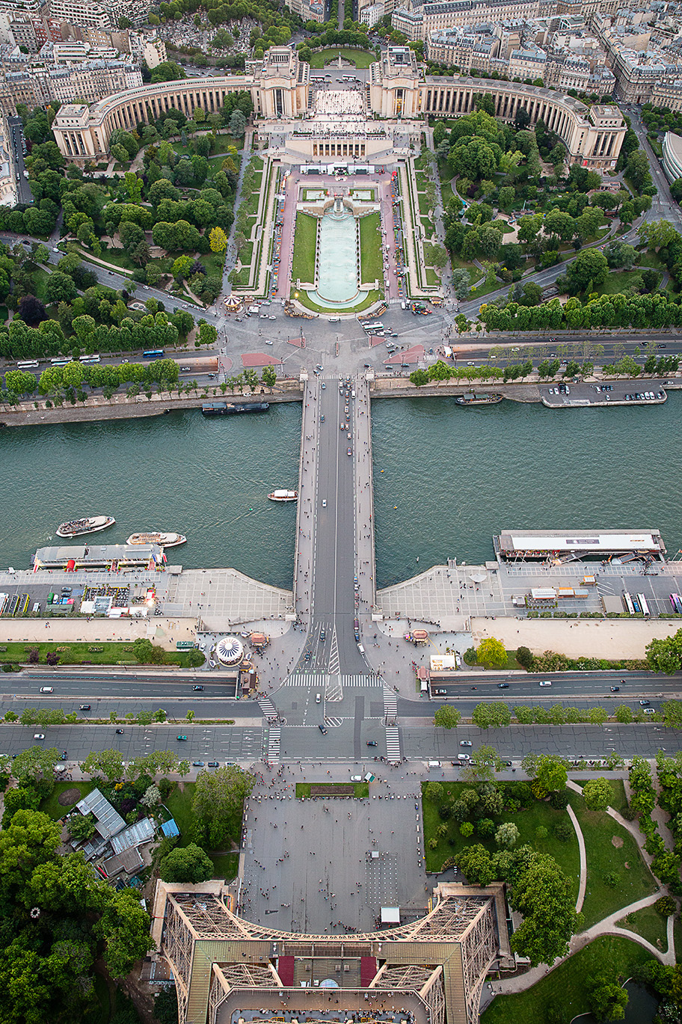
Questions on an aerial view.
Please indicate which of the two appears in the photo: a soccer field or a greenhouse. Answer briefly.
greenhouse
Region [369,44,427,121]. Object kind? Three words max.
building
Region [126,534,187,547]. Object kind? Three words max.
boat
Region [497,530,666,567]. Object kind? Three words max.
pier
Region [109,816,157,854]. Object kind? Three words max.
greenhouse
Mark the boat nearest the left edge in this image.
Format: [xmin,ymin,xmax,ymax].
[55,518,115,538]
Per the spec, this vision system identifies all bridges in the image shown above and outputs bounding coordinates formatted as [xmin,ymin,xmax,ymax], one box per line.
[294,374,375,622]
